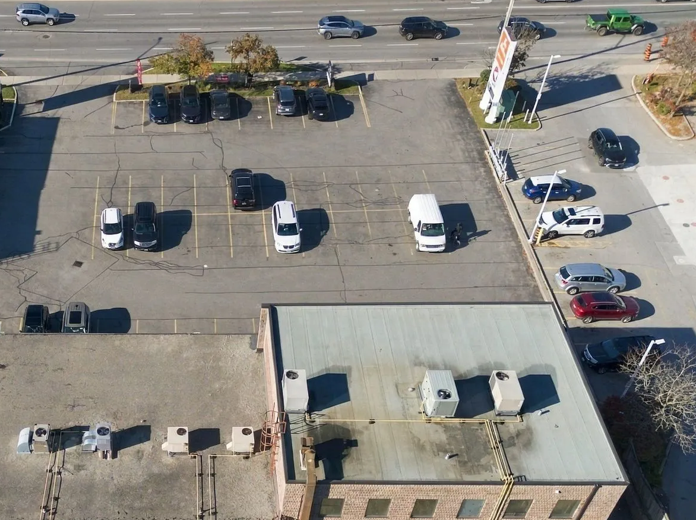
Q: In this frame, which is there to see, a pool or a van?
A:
van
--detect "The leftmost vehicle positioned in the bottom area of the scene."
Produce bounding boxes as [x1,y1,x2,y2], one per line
[14,303,49,332]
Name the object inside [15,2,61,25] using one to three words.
car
